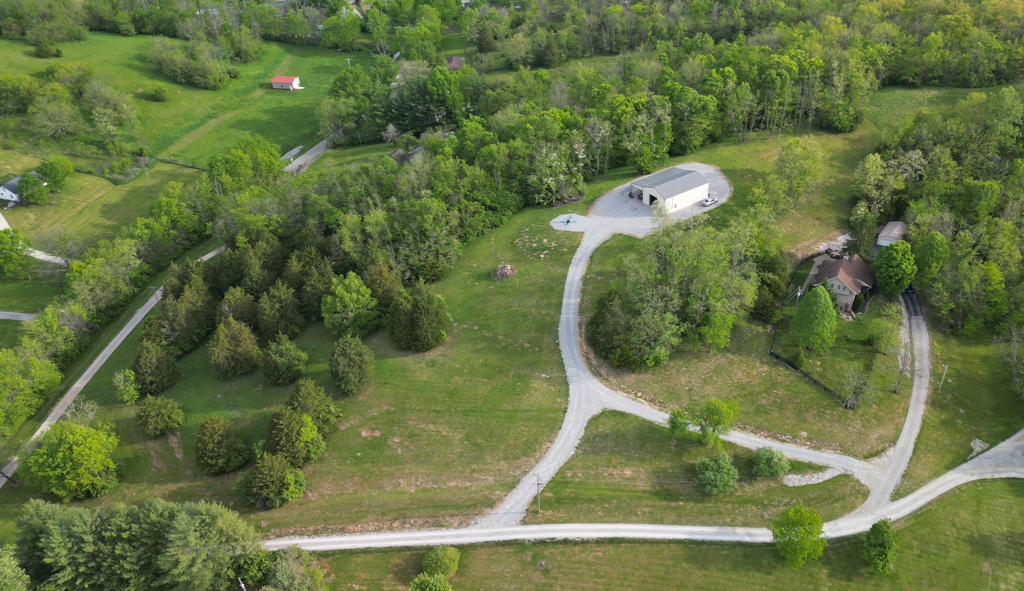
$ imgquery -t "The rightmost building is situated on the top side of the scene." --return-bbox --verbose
[877,217,917,245]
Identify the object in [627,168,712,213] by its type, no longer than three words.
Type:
barn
